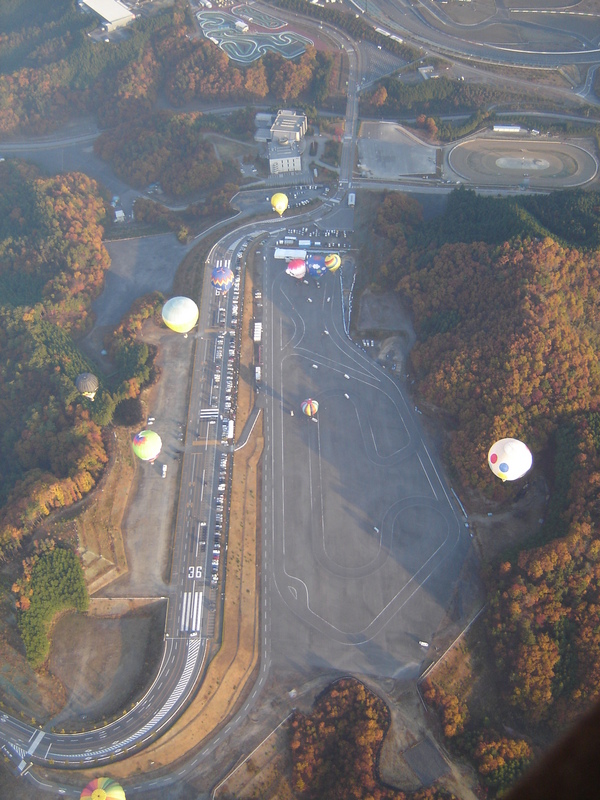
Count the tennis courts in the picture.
0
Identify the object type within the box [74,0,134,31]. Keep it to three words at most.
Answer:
building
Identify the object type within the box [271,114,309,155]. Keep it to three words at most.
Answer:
building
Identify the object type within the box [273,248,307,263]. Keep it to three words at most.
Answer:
shed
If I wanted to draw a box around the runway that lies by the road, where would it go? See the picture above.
[166,262,246,641]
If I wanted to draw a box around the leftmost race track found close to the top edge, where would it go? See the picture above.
[196,4,313,59]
